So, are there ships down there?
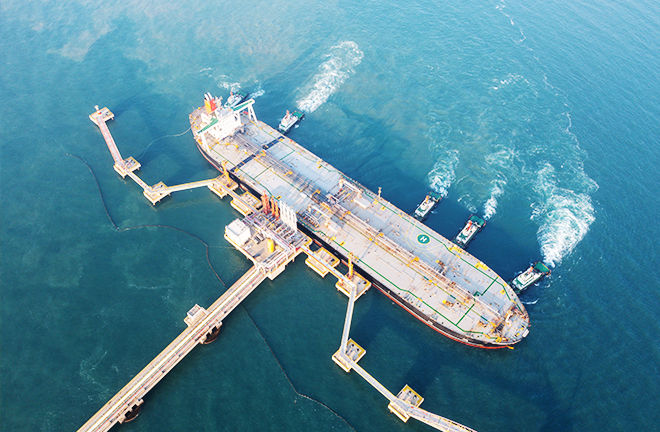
Yes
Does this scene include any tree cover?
No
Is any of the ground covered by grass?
No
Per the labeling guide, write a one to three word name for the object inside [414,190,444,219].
boat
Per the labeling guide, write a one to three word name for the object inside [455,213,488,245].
boat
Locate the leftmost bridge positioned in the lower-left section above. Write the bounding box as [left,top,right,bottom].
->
[68,265,269,432]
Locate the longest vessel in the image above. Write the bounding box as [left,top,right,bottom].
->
[186,90,532,346]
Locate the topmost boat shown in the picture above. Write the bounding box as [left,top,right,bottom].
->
[227,86,253,107]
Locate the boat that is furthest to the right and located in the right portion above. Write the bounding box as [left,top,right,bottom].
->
[515,261,557,292]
